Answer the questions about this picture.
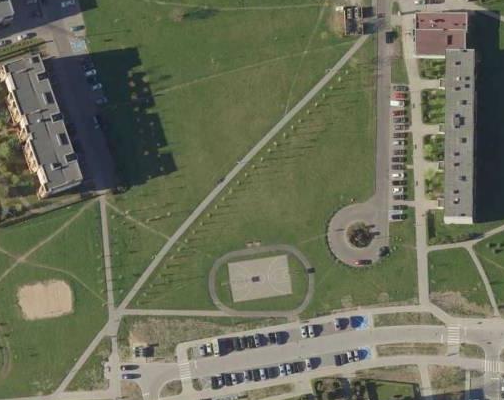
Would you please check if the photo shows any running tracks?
Yes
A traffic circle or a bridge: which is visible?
traffic circle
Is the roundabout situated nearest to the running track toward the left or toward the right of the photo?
right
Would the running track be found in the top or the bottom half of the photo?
bottom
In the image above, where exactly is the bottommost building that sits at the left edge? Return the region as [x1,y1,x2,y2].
[0,54,83,196]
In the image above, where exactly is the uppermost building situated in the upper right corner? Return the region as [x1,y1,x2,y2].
[415,12,467,59]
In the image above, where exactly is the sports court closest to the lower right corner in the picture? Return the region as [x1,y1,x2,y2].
[229,255,293,302]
